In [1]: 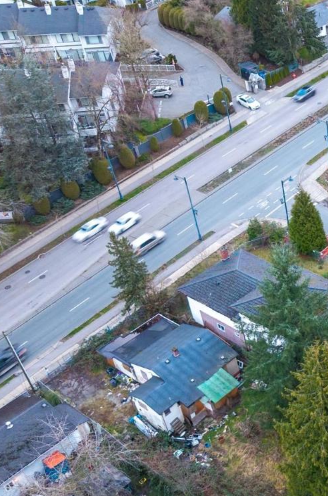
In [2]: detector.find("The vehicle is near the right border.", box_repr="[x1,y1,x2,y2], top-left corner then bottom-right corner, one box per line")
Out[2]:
[293,81,317,100]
